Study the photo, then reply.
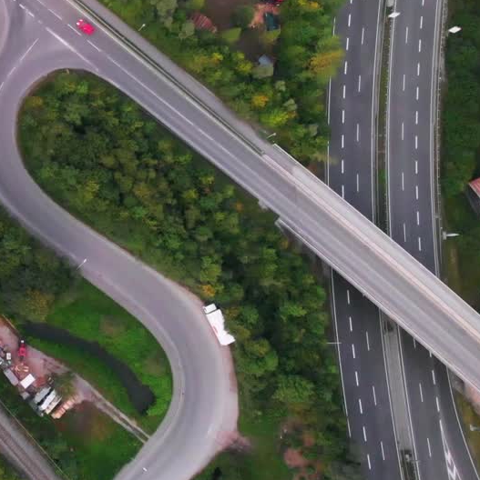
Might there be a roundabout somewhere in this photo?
No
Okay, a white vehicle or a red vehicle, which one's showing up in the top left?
red vehicle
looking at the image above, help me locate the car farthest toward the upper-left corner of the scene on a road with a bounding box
[77,18,96,35]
